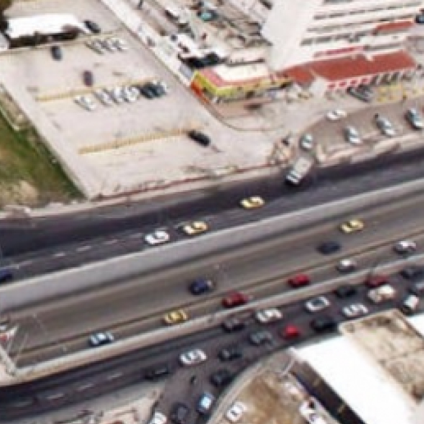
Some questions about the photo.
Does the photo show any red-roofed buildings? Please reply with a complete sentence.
Yes, this view includes a red-roofed building.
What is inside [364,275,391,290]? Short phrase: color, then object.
red car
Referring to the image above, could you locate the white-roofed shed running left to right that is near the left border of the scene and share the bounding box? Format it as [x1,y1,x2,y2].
[5,14,91,52]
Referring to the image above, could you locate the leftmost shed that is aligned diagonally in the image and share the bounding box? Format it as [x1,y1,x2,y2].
[138,0,169,35]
